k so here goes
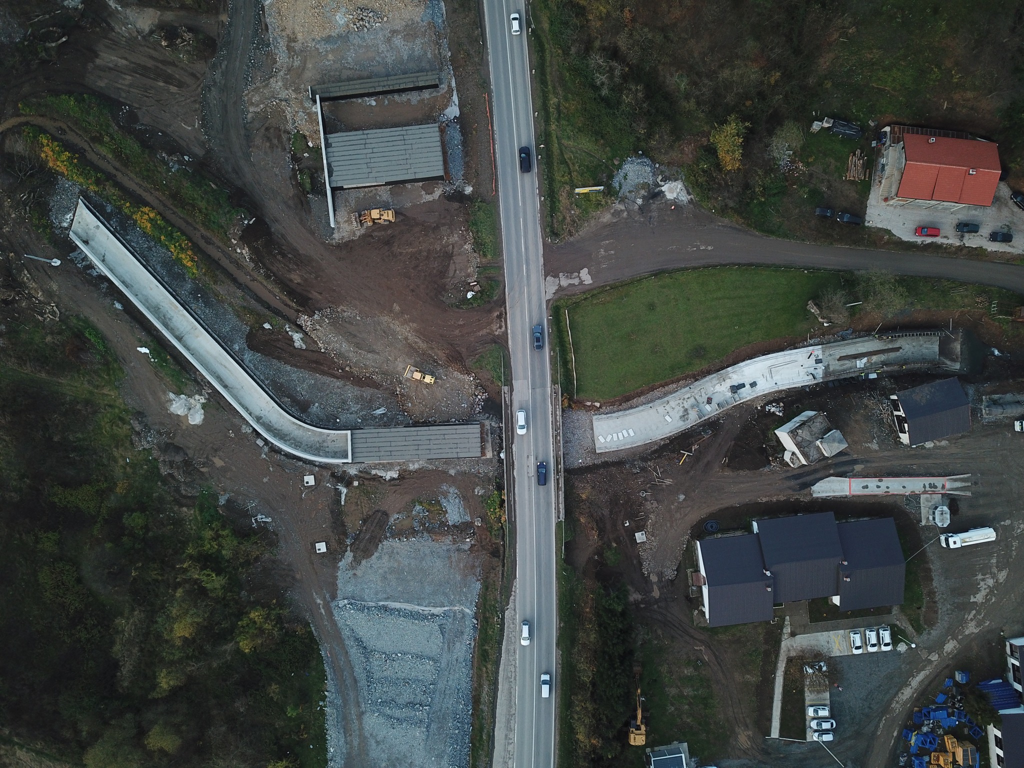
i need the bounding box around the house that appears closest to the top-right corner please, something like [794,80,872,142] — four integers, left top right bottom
[866,126,1002,218]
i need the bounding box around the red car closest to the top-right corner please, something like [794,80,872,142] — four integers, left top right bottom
[914,225,940,238]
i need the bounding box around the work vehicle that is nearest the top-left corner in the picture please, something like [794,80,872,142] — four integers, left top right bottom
[349,206,396,227]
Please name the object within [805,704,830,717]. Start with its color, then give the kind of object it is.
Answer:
white vehicle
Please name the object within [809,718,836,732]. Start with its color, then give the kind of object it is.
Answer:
white car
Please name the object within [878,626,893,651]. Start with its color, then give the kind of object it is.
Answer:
white car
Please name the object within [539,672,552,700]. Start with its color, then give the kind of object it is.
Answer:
white vehicle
